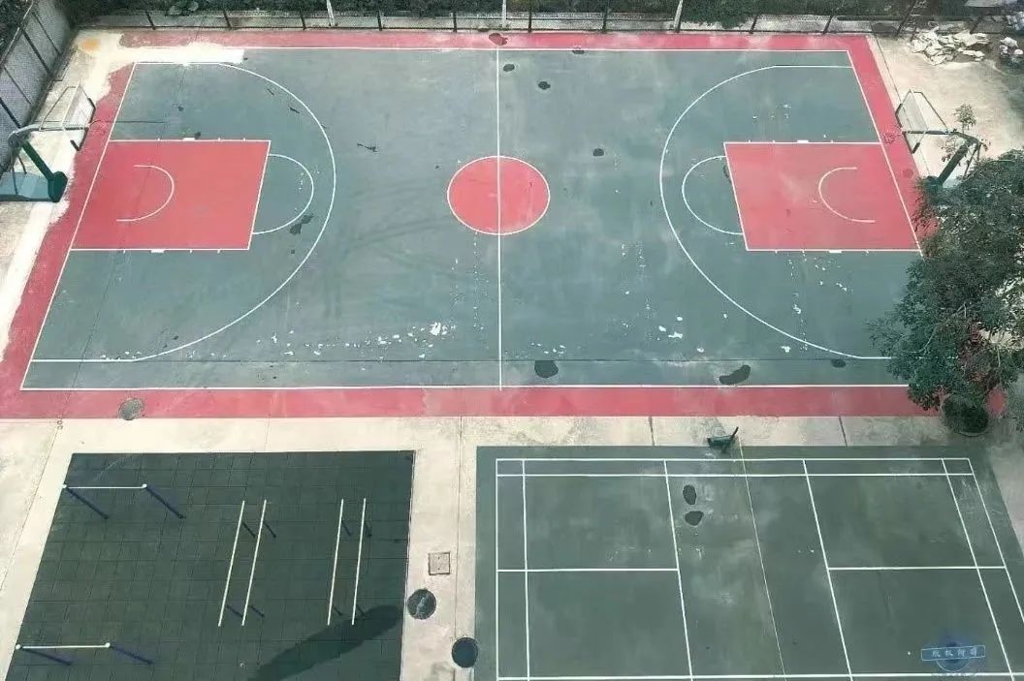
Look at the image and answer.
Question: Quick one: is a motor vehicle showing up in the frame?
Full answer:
No, the picture doesn't show any motor vehicle.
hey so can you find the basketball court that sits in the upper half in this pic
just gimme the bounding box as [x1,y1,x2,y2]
[0,32,1021,421]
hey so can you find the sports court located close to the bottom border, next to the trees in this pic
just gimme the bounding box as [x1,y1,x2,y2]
[475,445,1024,681]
